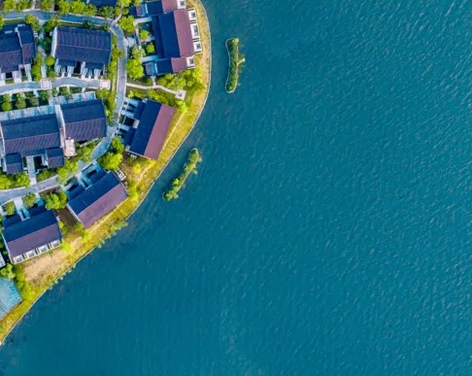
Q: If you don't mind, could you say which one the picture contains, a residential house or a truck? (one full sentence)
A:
This aerial view contains a residential house.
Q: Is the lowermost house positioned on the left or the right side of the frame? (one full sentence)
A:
The lowermost house sits on the left side.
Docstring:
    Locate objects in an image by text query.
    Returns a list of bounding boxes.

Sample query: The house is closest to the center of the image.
[114,97,175,161]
